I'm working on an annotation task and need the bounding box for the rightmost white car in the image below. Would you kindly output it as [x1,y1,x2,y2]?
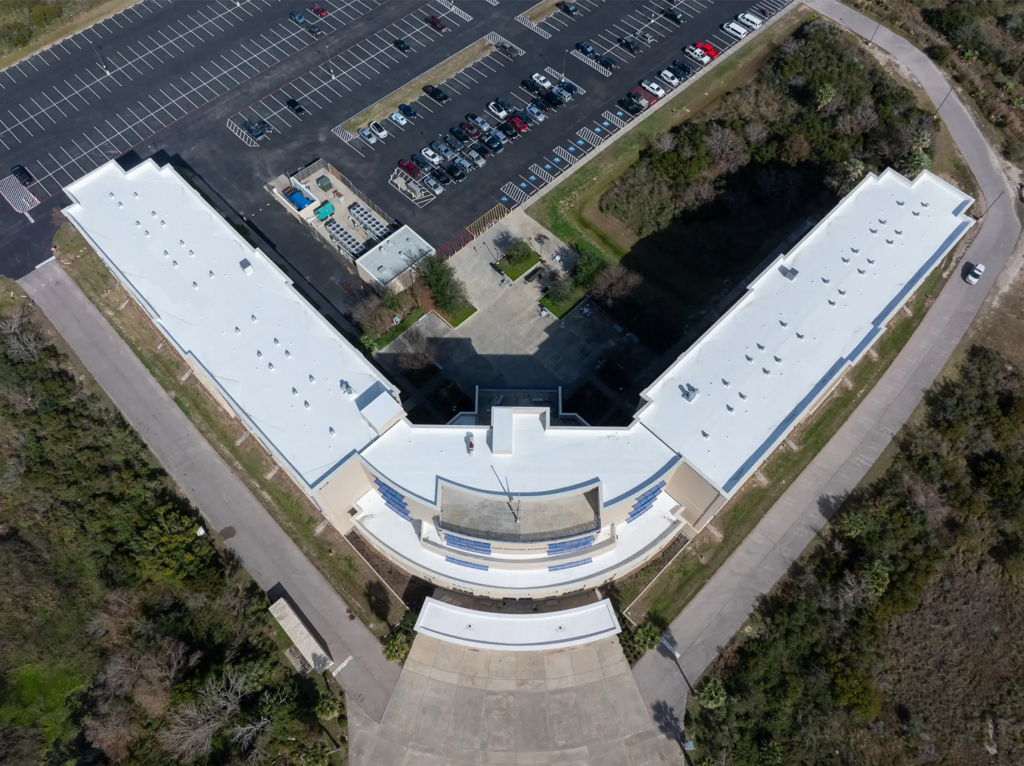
[966,262,986,285]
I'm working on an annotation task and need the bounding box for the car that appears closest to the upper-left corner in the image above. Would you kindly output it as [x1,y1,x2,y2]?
[12,167,32,185]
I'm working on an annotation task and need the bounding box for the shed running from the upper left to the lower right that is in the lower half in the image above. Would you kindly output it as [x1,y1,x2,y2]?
[269,597,331,670]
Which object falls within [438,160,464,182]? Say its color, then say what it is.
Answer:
black truck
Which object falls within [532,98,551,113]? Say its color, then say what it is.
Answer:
black car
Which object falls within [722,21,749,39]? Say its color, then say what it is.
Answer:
white vehicle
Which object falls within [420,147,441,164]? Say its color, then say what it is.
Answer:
white car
